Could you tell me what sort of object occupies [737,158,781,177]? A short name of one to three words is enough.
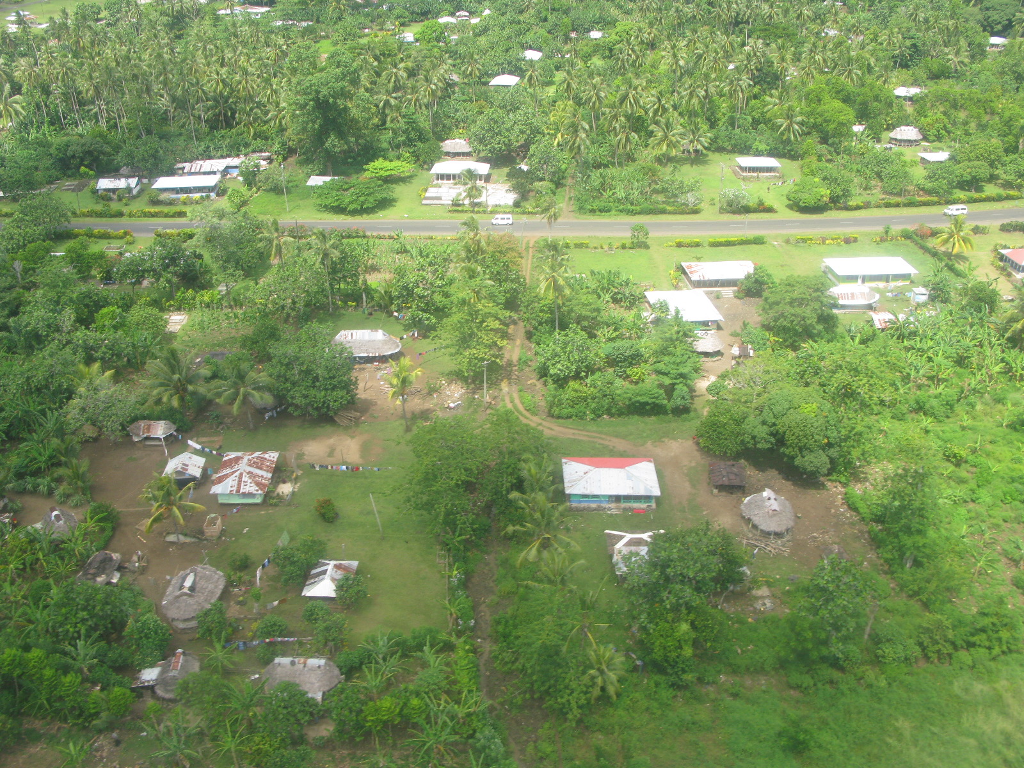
house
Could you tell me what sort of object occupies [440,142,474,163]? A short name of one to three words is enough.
building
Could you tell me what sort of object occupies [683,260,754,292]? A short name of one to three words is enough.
house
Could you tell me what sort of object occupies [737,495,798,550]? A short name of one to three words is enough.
building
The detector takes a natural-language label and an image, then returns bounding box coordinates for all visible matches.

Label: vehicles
[945,205,969,216]
[492,214,513,225]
